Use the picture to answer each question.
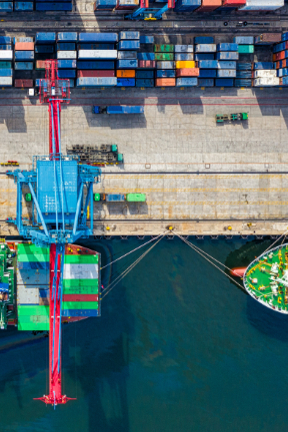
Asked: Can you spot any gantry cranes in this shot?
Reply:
Yes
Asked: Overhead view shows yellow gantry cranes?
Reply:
No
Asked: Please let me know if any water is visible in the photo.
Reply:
Yes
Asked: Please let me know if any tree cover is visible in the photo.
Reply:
No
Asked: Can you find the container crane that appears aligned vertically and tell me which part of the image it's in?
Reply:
left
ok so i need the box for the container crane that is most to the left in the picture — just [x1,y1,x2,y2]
[5,58,109,411]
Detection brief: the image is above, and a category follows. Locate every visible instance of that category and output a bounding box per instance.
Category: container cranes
[119,0,173,20]
[5,58,109,411]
